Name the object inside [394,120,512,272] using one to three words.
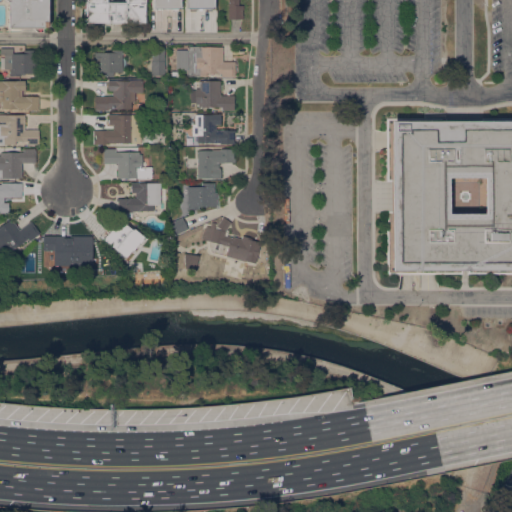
building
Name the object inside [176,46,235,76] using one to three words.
house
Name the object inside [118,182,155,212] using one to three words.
house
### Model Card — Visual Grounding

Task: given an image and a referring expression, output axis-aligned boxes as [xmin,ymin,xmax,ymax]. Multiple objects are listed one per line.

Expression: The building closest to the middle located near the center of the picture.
[204,220,262,263]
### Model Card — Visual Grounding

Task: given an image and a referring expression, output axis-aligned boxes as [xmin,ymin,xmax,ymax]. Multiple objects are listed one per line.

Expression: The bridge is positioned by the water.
[353,371,512,490]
